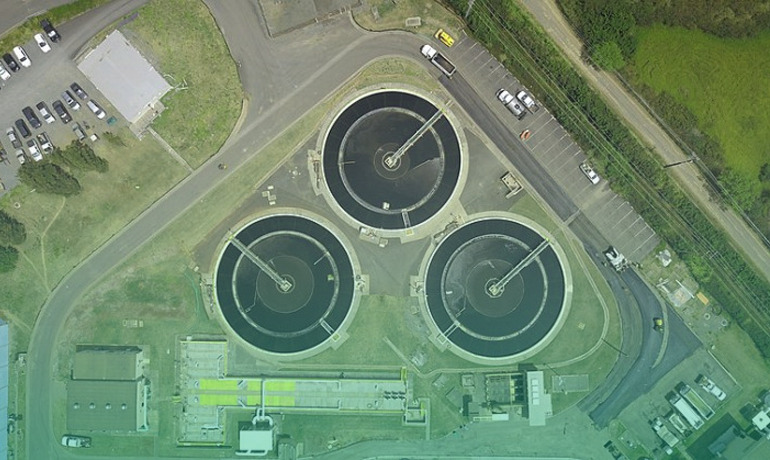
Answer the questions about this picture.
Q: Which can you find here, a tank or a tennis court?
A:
tank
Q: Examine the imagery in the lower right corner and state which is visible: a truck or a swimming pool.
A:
truck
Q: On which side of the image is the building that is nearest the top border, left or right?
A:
left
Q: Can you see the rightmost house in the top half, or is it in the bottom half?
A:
bottom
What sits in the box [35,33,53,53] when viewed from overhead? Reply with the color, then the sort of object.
white car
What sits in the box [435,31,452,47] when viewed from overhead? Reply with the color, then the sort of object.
yellow work vehicle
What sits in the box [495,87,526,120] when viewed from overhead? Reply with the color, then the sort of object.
white truck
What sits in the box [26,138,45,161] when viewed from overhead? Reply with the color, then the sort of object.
white vehicle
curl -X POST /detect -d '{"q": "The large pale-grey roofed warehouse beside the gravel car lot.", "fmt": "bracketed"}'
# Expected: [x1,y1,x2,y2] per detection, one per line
[78,30,171,123]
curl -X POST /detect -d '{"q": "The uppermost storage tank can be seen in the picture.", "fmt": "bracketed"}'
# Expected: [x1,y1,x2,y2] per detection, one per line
[314,83,469,247]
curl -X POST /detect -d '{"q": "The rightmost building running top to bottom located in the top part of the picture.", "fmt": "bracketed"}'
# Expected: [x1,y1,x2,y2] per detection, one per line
[308,150,326,196]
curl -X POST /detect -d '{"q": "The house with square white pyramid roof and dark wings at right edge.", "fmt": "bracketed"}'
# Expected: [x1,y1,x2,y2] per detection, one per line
[730,391,770,437]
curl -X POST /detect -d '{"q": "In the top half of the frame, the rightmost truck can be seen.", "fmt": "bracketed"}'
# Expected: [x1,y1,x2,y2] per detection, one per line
[578,161,599,183]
